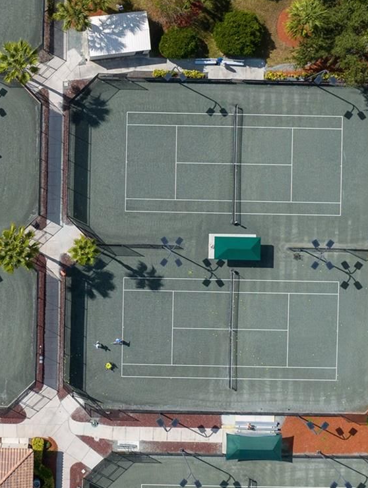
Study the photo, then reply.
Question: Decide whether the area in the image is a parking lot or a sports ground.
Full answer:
This image shows a sports ground.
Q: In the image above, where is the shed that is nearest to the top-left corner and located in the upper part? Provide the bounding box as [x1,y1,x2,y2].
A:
[87,11,150,58]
